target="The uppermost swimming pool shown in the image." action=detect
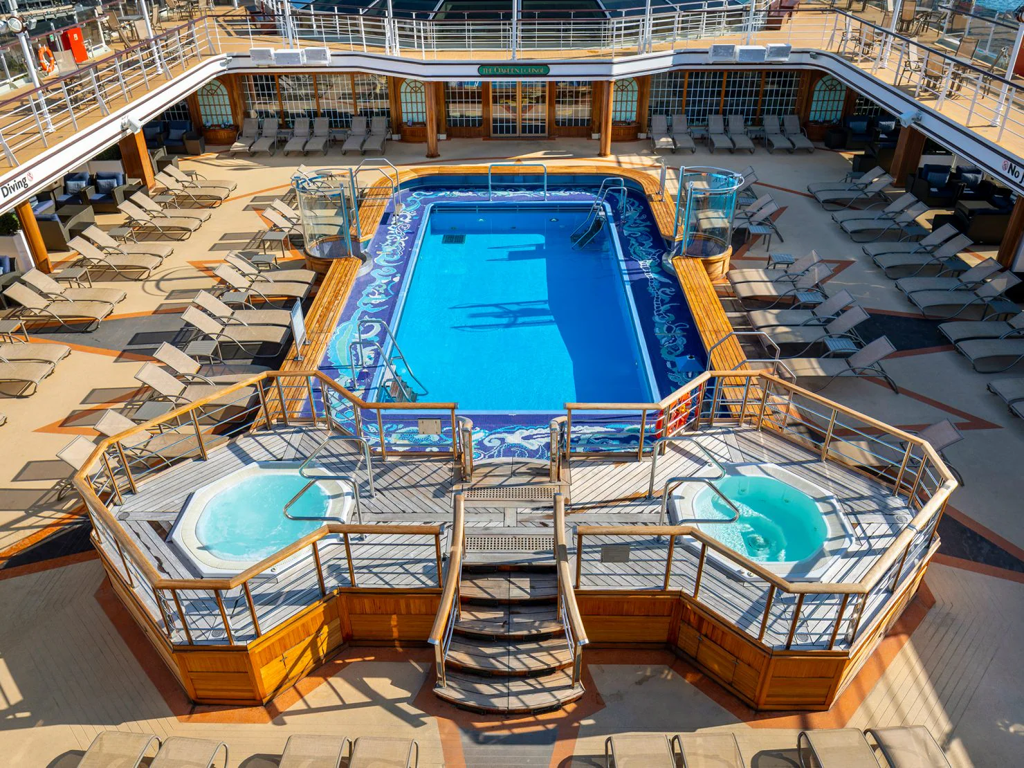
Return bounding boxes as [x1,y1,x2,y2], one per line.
[368,200,663,416]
